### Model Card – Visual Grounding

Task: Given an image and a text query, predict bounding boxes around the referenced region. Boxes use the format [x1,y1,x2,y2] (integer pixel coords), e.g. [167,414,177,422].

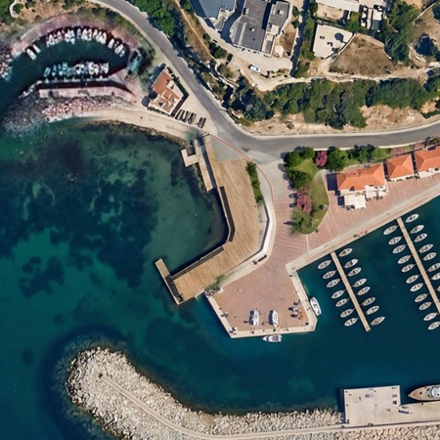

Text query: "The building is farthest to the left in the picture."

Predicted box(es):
[148,70,183,115]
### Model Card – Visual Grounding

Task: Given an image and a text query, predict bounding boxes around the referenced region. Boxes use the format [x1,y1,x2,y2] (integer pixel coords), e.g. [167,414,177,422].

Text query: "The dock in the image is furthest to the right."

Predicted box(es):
[398,218,440,313]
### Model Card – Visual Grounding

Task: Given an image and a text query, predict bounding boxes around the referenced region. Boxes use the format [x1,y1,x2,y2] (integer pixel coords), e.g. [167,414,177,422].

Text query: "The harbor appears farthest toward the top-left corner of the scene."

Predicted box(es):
[18,14,140,102]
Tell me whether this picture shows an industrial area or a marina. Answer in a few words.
marina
